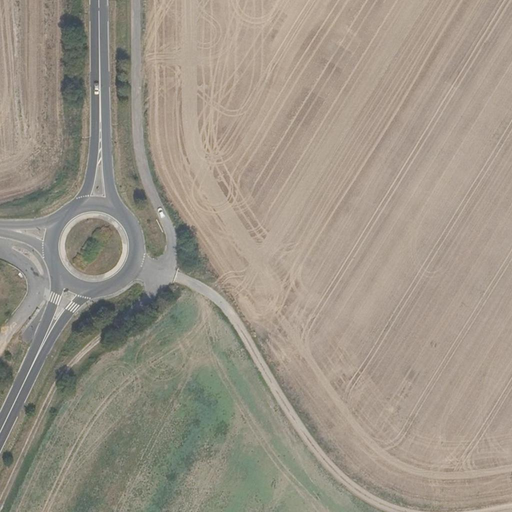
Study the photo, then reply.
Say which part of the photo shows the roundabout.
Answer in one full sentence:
The roundabout is in the left part of the image.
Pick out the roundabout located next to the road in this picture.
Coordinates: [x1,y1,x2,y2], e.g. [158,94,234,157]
[0,150,146,320]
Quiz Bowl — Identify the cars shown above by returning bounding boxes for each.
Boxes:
[158,207,166,219]
[94,83,100,95]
